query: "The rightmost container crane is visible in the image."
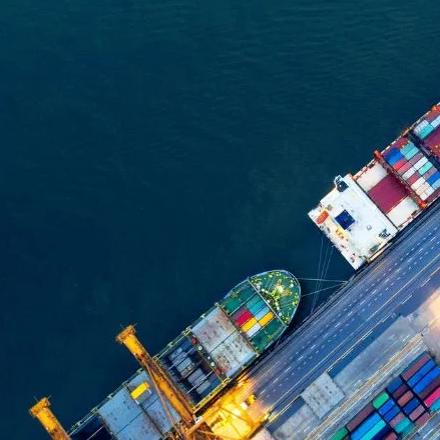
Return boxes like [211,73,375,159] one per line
[109,327,277,440]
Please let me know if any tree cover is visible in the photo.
No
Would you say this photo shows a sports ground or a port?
port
